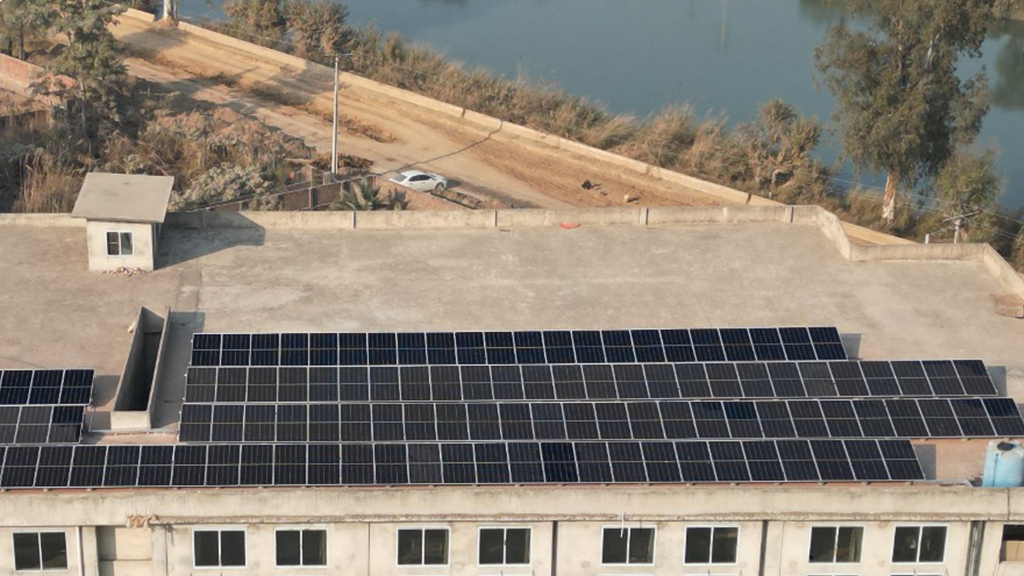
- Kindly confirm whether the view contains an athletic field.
No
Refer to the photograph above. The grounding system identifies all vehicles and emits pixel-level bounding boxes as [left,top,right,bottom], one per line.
[391,171,449,190]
